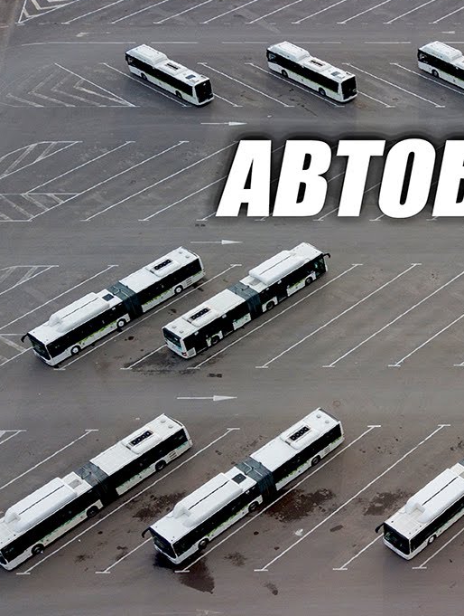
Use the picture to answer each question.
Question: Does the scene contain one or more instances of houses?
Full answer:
No, there's no house here.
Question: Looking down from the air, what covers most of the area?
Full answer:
For the most part, this view shows paved ground.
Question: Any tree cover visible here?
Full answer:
No, tree cover can't be seen anywhere here.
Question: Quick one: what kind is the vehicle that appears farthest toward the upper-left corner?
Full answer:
In the photo, the vehicle that appears farthest toward the upper-left corner shows up as a bus.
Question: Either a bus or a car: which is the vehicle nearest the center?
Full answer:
In the photo, the vehicle nearest the center shows up as a bus.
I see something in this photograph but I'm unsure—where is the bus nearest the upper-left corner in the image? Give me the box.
[129,45,213,104]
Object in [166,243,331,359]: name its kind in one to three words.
bus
